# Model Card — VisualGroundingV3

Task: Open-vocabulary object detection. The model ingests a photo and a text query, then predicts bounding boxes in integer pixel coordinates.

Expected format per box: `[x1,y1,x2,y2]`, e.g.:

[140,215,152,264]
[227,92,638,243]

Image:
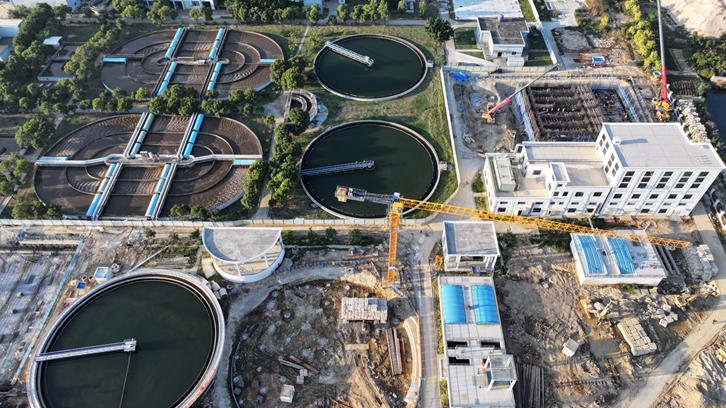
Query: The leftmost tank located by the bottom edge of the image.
[26,268,226,408]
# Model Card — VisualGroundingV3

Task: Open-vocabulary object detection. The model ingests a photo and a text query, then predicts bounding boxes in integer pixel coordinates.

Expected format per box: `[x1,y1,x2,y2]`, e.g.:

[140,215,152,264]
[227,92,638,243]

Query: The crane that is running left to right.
[335,184,696,290]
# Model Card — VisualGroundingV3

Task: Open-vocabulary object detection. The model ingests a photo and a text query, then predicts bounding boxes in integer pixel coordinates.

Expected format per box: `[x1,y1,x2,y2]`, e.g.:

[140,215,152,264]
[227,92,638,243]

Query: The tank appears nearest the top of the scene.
[313,33,432,104]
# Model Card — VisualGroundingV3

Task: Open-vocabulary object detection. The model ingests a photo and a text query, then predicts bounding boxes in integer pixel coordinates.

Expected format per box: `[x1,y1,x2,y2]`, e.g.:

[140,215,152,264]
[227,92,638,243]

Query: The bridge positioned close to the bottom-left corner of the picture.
[28,341,131,366]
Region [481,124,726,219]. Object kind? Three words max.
building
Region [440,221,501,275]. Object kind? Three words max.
building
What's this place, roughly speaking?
industrial area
